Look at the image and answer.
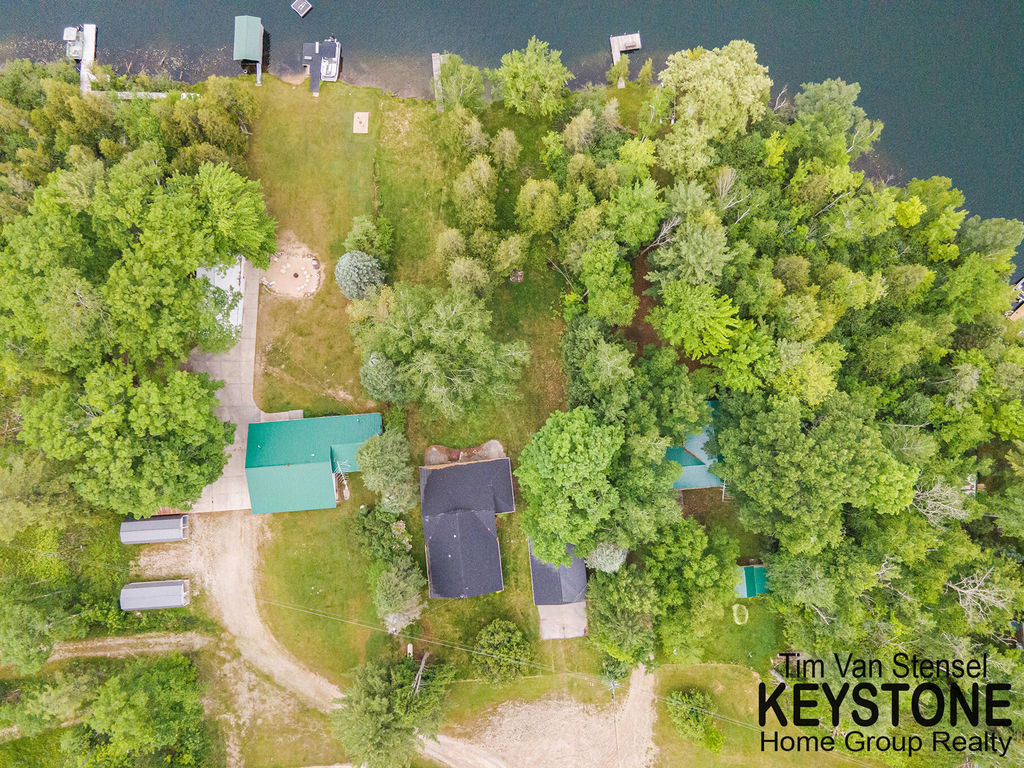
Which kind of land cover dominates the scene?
trees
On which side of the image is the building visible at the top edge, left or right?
left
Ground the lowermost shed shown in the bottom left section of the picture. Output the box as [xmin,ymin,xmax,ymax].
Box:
[119,575,195,609]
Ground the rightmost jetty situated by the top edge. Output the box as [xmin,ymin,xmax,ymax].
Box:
[610,31,641,54]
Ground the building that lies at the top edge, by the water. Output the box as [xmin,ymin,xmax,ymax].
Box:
[233,15,269,71]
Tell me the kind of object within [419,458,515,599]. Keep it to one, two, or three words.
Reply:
house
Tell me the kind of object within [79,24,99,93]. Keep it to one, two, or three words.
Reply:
pier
